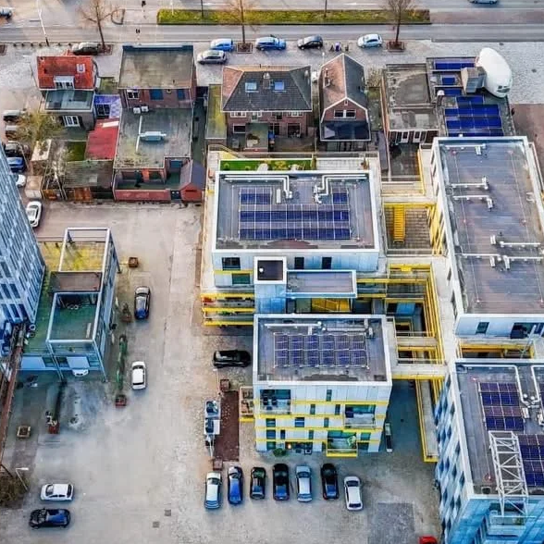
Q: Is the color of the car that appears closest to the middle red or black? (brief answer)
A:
black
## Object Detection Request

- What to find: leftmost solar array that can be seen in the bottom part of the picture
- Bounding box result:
[274,332,371,367]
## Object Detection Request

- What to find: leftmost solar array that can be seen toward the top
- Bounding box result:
[239,186,353,238]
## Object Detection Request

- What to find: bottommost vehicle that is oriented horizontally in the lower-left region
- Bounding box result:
[24,506,74,529]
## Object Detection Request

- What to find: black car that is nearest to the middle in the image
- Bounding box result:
[210,348,252,368]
